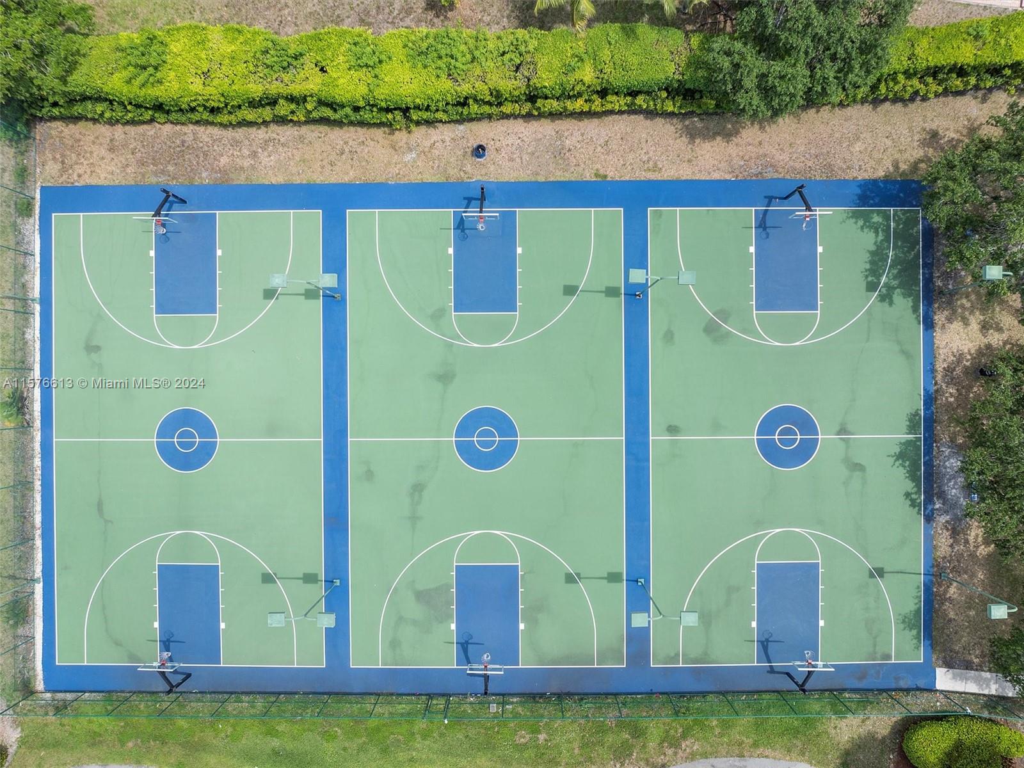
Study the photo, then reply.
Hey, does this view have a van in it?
No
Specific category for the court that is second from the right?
basketball court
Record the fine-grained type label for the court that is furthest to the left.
basketball court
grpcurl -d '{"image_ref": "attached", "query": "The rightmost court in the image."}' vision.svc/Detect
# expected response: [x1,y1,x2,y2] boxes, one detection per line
[648,208,923,667]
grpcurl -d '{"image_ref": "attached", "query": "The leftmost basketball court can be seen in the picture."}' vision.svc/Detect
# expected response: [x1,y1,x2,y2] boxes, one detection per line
[52,210,325,667]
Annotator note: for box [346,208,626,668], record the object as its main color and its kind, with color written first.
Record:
green basketball court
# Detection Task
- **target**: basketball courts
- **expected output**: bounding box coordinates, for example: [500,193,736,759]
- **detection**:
[346,208,626,668]
[648,208,923,667]
[52,210,325,667]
